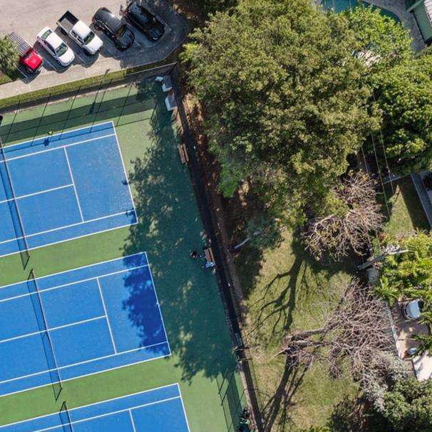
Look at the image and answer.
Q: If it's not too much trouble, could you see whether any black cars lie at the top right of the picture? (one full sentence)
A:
No, the scene shows no black car at the top right of the picture.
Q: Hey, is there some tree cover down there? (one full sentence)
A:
Yes, there is tree cover in the image.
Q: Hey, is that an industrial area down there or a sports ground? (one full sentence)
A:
What you see here is a sports ground.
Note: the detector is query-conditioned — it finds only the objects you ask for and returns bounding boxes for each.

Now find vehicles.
[124,0,166,45]
[3,26,45,77]
[56,2,102,58]
[95,2,135,53]
[38,22,76,69]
